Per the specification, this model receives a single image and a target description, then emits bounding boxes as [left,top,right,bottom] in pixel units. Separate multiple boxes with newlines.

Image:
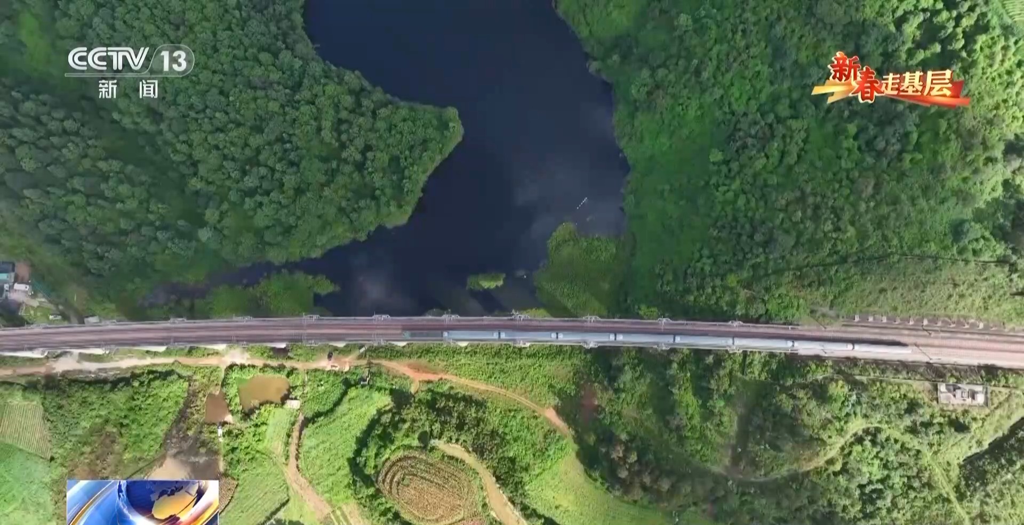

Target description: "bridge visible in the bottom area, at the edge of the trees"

[0,314,796,361]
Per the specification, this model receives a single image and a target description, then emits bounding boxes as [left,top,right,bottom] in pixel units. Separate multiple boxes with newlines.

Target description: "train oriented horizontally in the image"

[399,331,911,354]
